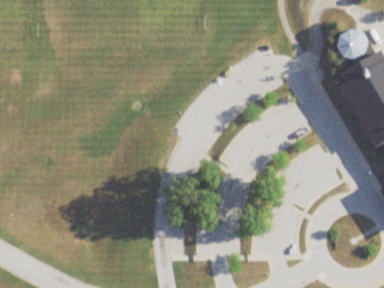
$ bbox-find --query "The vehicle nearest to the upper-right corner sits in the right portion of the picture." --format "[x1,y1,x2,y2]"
[369,26,382,44]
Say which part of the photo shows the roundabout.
bottom right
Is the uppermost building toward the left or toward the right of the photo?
right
